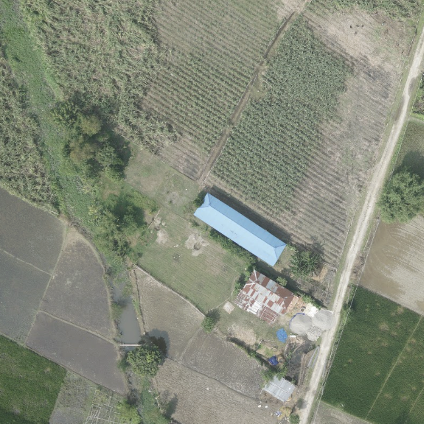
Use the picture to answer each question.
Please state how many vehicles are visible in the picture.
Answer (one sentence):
The picture shows no vehicles.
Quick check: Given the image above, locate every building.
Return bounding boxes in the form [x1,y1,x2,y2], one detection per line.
[263,375,295,401]
[234,271,293,324]
[194,193,285,266]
